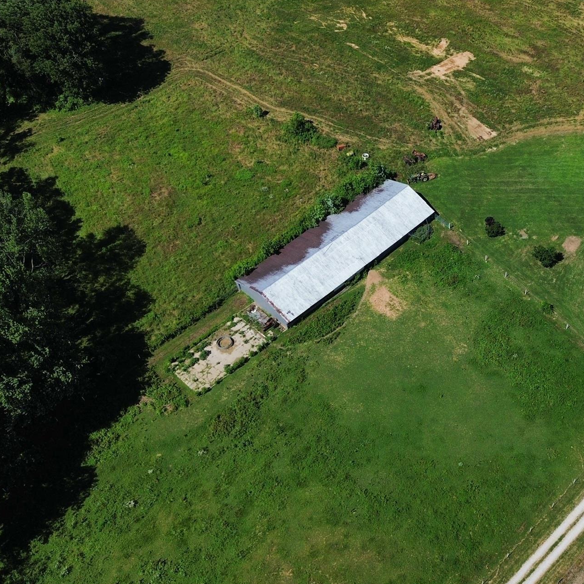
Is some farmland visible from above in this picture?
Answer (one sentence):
Yes, the picture does contain farmland.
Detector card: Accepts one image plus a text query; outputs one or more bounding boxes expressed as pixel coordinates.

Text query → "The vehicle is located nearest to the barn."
[407,169,427,184]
